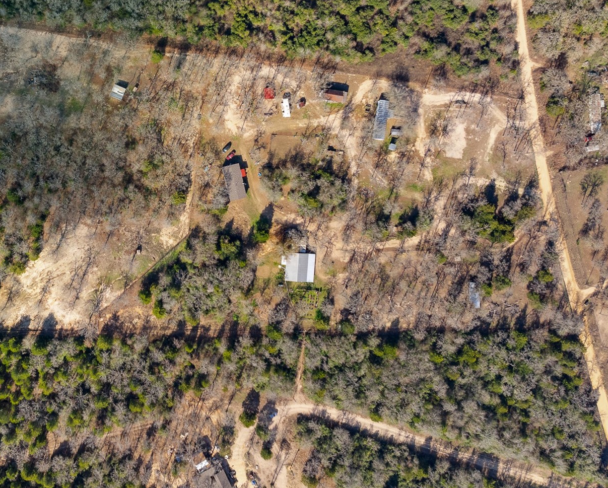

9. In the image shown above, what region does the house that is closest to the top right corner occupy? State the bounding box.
[587,94,604,132]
